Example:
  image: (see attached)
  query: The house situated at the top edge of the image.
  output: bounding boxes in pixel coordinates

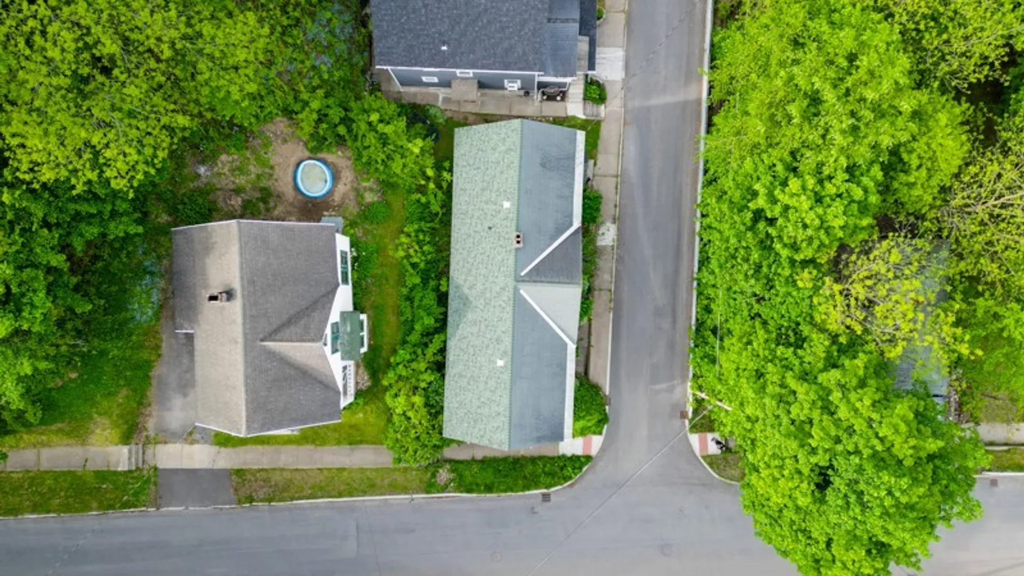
[371,0,596,108]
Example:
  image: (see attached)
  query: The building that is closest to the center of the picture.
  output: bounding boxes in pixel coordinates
[443,119,586,450]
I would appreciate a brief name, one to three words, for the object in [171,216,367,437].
house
